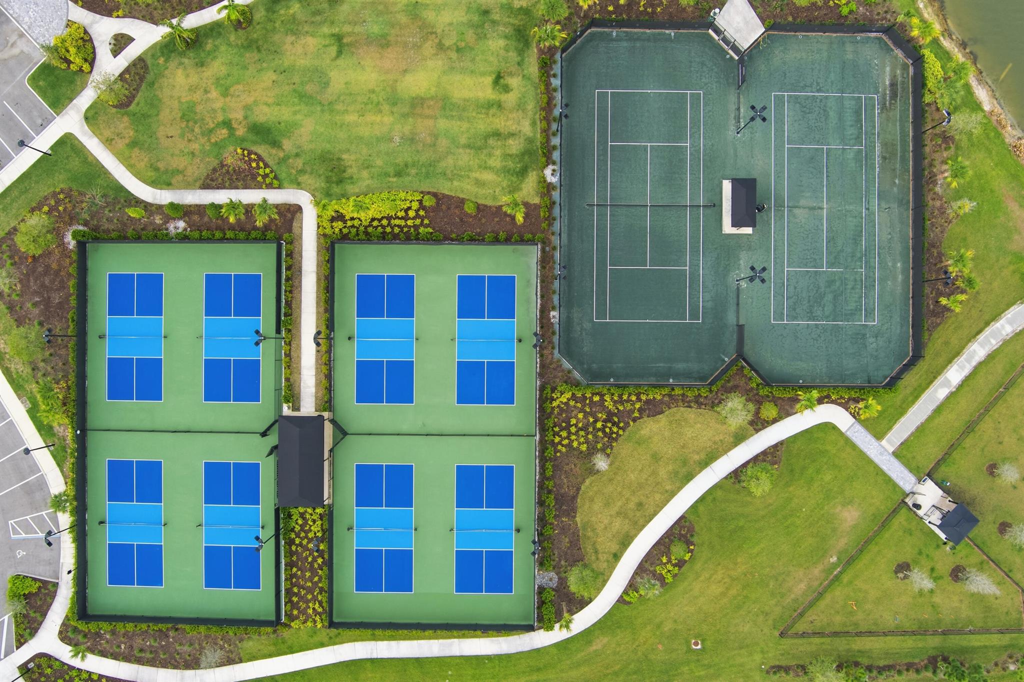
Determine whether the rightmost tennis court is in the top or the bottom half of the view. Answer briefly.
top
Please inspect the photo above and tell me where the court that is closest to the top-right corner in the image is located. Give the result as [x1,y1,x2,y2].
[772,92,877,323]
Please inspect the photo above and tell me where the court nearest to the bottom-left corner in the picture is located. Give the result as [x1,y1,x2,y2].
[106,459,164,588]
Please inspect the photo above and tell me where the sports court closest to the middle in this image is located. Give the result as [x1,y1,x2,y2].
[456,274,516,406]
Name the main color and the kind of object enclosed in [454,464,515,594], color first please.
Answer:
blue sports court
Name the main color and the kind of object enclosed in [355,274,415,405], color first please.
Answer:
blue sports court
